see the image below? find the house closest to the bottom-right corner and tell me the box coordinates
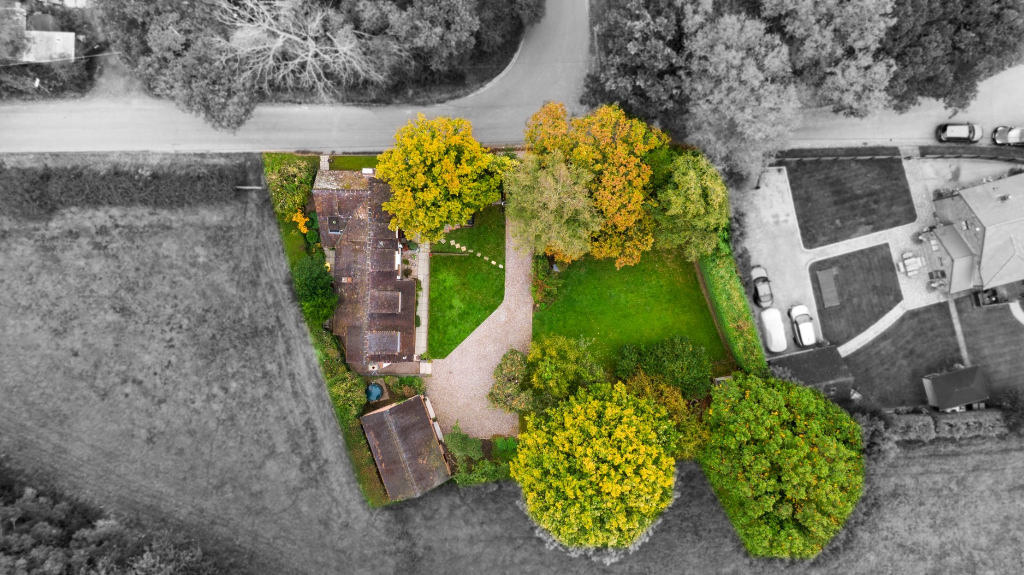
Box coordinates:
[919,364,990,412]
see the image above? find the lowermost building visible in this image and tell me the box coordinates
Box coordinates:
[360,394,452,501]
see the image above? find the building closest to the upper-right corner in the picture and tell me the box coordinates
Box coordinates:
[920,173,1024,295]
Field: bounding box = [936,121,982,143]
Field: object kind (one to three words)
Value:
car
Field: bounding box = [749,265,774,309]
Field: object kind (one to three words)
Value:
car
